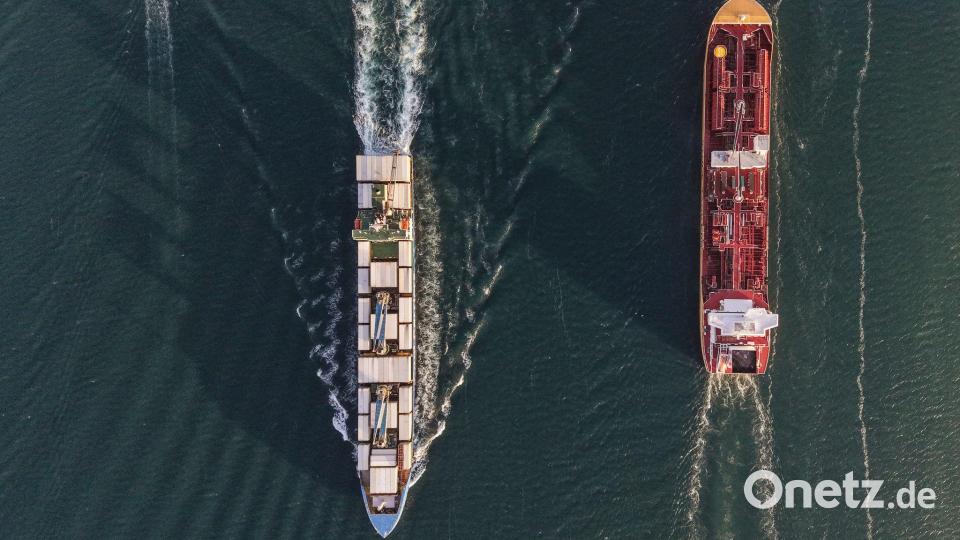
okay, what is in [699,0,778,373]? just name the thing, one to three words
ship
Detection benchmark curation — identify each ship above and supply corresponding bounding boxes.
[699,0,778,373]
[352,148,415,536]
